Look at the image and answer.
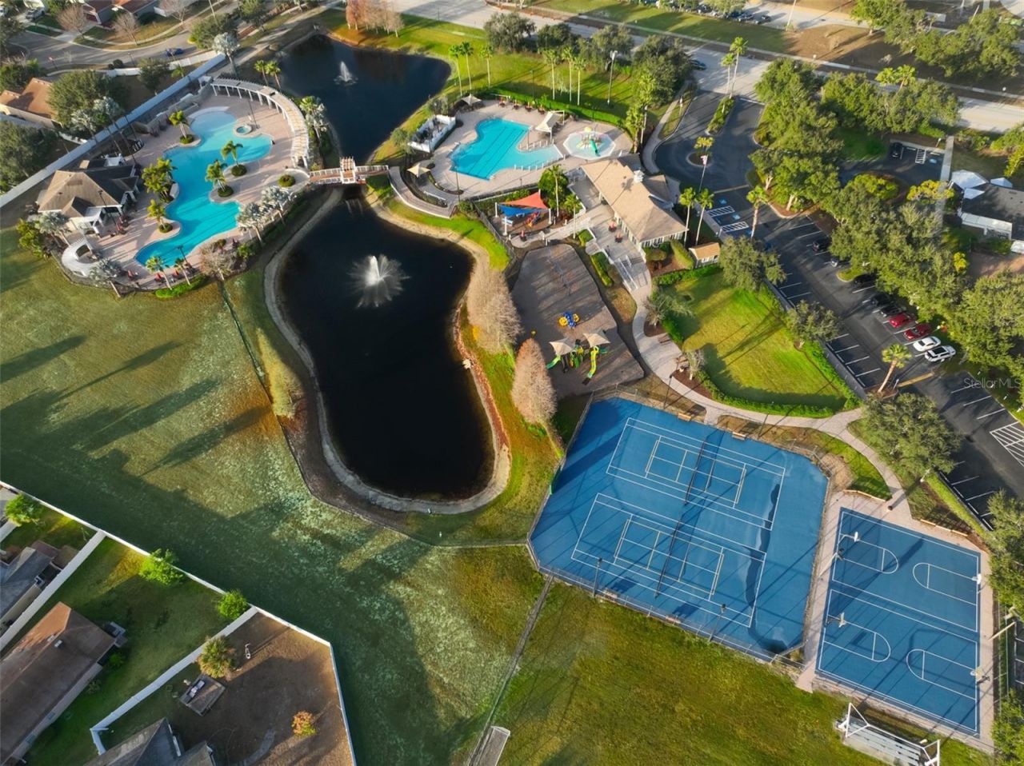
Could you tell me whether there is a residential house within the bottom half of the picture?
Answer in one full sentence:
Yes, a residential house shows up within the bottom half of the picture.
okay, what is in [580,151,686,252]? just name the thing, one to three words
building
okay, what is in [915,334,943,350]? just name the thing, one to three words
car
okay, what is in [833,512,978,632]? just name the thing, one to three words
basketball court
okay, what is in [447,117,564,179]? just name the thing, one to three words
swimming pool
